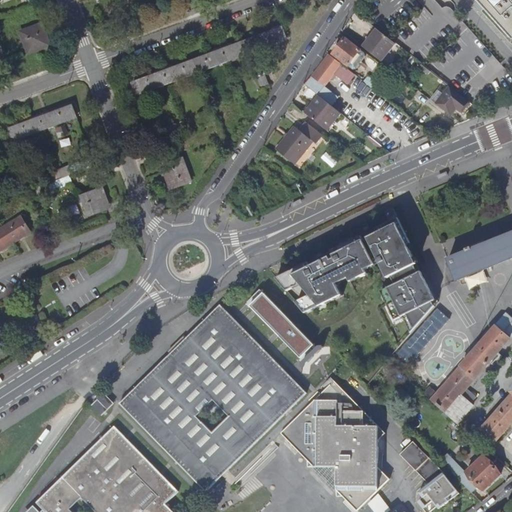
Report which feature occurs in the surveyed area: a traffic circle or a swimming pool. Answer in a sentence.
There is a traffic circle in the scene.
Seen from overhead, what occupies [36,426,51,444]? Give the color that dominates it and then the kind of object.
white vehicle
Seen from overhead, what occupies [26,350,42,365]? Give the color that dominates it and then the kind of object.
white vehicle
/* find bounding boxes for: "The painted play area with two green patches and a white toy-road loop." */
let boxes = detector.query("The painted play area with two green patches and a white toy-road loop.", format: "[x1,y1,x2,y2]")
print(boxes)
[414,330,470,388]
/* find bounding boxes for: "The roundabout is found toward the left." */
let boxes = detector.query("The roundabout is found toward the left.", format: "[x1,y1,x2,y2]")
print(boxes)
[150,222,228,300]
